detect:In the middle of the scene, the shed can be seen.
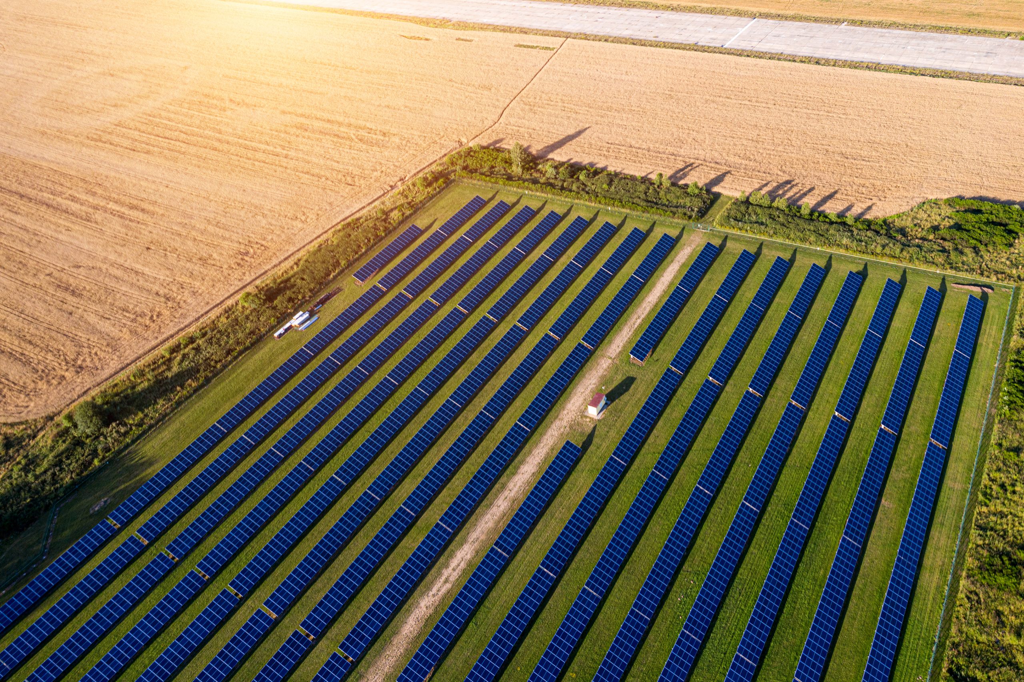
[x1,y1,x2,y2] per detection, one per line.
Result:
[587,392,609,416]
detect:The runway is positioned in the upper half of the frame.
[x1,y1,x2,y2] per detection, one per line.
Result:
[245,0,1024,77]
